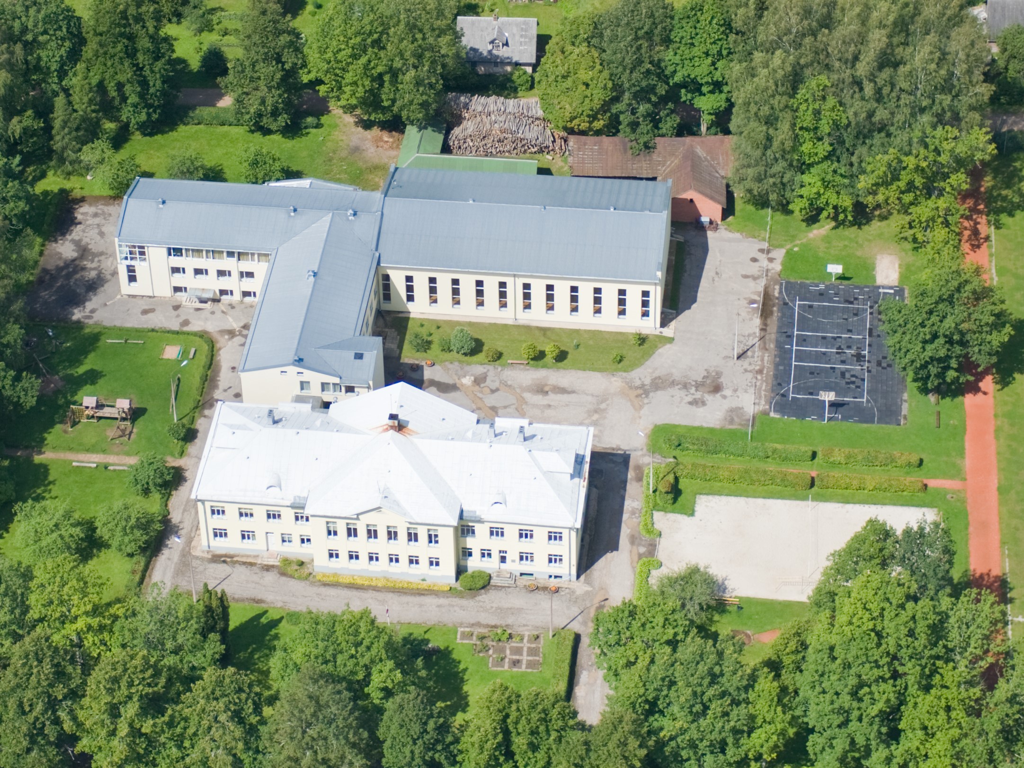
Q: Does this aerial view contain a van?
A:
No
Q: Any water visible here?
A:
No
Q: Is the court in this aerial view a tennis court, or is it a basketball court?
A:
basketball court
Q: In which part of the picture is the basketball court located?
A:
right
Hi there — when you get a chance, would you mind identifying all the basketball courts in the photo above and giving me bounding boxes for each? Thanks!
[771,280,907,424]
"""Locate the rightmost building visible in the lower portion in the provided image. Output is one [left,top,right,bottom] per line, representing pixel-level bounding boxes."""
[191,380,596,588]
